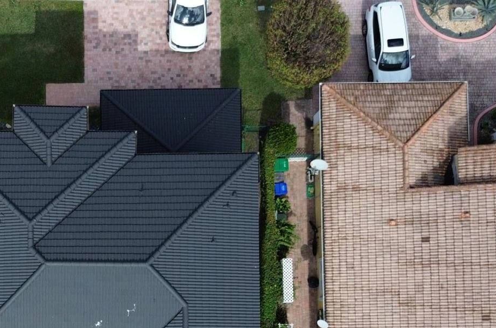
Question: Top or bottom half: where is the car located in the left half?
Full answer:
It is in the top half that the car located in the left half appears.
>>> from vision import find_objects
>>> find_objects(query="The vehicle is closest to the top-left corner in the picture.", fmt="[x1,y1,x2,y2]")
[165,0,213,52]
